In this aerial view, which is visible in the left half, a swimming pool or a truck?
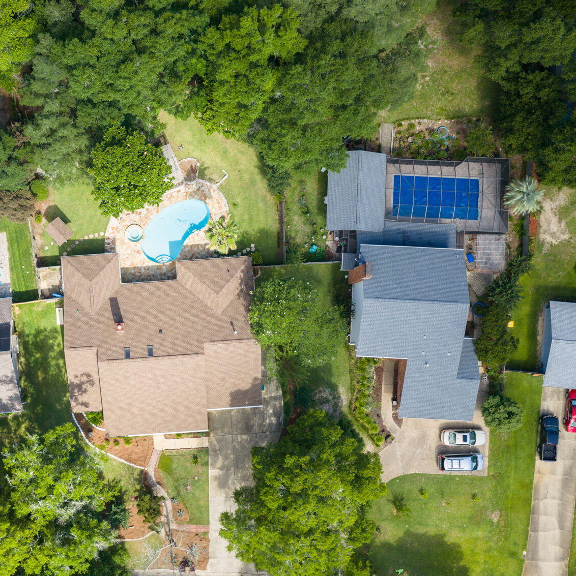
swimming pool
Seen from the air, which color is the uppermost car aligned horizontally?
white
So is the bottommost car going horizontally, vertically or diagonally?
horizontally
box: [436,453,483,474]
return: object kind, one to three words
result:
car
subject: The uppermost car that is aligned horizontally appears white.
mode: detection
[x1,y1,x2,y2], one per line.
[439,427,485,449]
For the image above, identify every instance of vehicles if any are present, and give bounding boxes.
[436,453,483,474]
[562,390,576,434]
[439,427,485,449]
[537,413,564,464]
